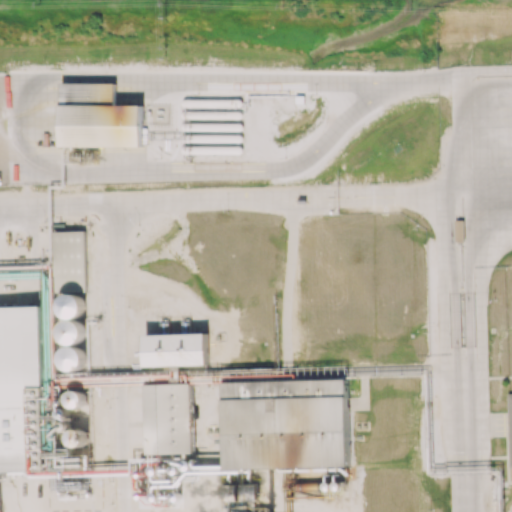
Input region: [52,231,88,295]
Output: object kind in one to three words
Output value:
building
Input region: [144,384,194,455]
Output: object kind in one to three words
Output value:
shed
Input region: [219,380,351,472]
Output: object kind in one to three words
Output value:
building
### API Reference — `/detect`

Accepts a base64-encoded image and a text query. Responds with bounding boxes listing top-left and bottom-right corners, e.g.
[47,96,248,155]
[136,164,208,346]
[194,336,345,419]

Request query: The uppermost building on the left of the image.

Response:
[54,84,144,148]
